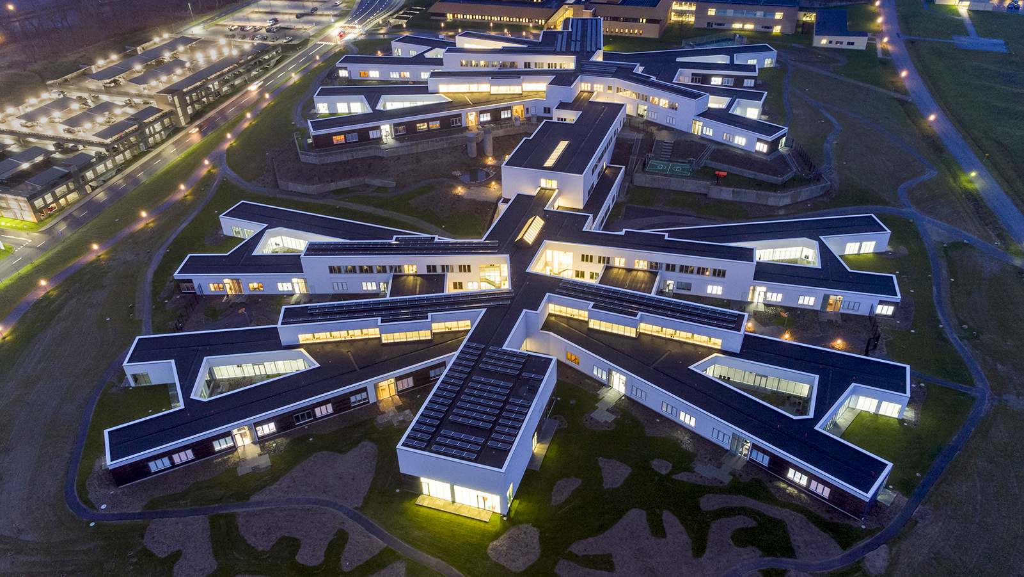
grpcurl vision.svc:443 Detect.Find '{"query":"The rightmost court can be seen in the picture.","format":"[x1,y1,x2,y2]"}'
[683,30,747,49]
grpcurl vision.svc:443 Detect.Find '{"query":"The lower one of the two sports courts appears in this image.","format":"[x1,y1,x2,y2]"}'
[646,160,694,175]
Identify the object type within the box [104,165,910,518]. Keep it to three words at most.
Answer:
building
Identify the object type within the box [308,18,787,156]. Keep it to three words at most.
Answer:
building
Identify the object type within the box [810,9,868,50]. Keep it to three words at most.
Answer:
house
